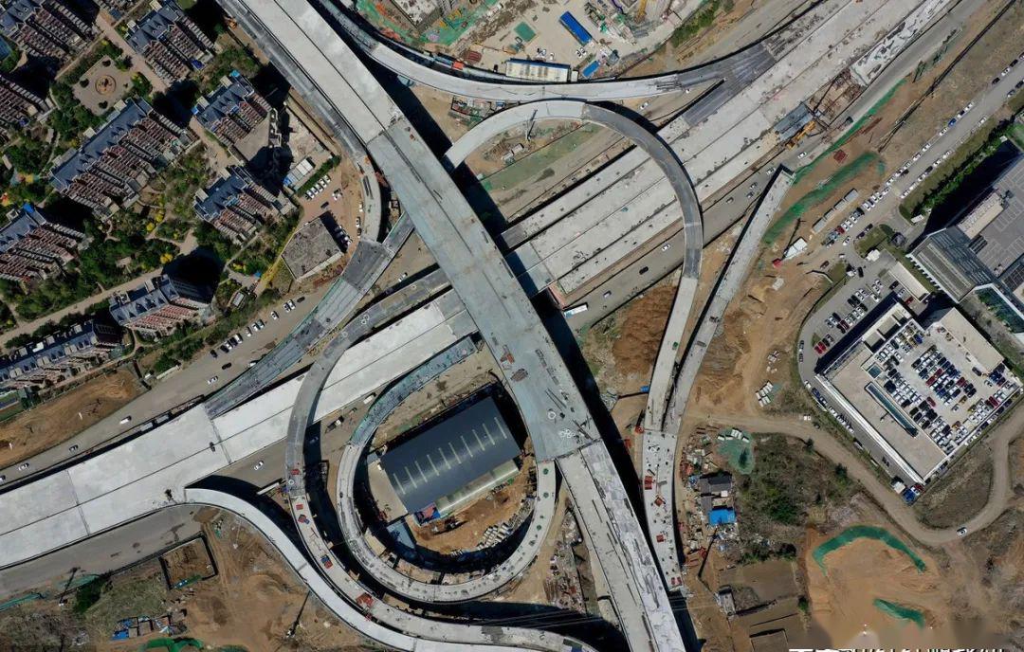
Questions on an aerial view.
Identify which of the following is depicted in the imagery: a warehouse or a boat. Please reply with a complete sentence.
This aerial view contains a warehouse.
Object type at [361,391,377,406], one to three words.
vehicle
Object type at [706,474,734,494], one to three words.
house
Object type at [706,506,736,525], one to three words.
shed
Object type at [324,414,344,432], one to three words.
vehicle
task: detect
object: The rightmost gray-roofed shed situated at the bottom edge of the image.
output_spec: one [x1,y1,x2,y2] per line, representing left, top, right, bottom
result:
[716,587,737,621]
